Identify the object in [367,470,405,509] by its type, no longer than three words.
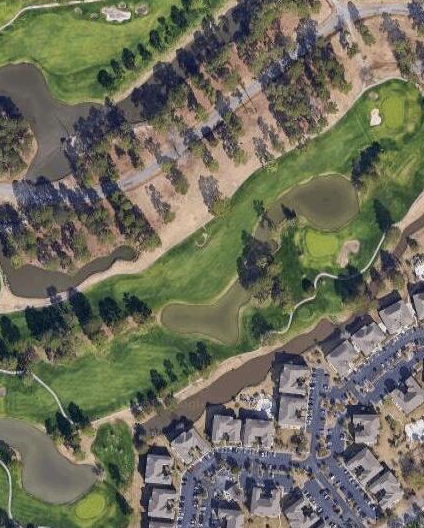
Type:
building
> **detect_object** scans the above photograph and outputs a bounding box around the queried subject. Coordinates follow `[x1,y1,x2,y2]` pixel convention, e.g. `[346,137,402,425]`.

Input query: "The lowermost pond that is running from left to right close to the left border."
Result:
[0,239,137,297]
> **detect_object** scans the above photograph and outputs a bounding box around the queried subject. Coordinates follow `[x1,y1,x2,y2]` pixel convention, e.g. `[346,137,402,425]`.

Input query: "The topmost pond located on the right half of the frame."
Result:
[254,174,359,249]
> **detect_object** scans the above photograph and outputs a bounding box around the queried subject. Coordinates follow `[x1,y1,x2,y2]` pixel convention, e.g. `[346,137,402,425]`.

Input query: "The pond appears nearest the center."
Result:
[161,281,248,344]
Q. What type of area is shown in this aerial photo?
golf course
